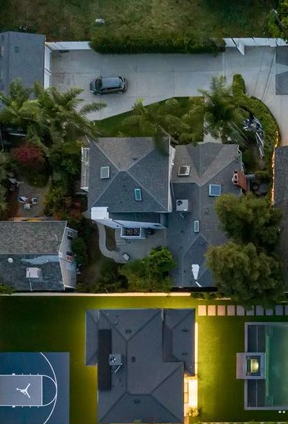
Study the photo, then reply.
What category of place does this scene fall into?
residential area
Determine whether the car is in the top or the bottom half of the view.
top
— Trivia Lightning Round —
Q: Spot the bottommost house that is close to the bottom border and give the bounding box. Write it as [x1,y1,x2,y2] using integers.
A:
[84,308,196,424]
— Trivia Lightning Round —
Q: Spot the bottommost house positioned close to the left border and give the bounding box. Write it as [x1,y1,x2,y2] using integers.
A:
[0,217,79,291]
